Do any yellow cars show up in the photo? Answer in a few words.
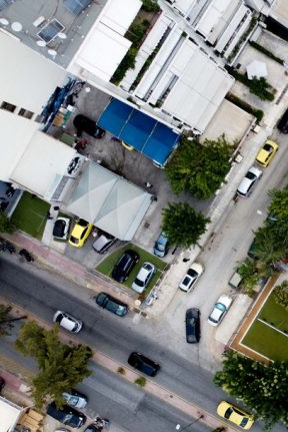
Yes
